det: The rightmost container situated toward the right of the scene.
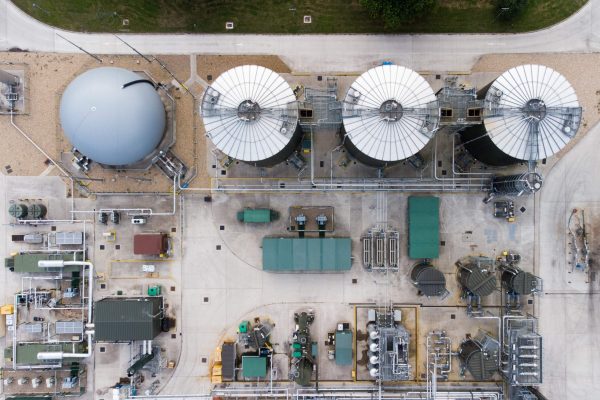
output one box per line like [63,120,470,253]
[403,196,439,259]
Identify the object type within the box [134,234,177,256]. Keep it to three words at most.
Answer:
house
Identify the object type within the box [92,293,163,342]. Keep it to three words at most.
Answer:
building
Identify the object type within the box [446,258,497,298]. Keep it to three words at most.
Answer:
storage tank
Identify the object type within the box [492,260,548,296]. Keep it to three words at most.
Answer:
storage tank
